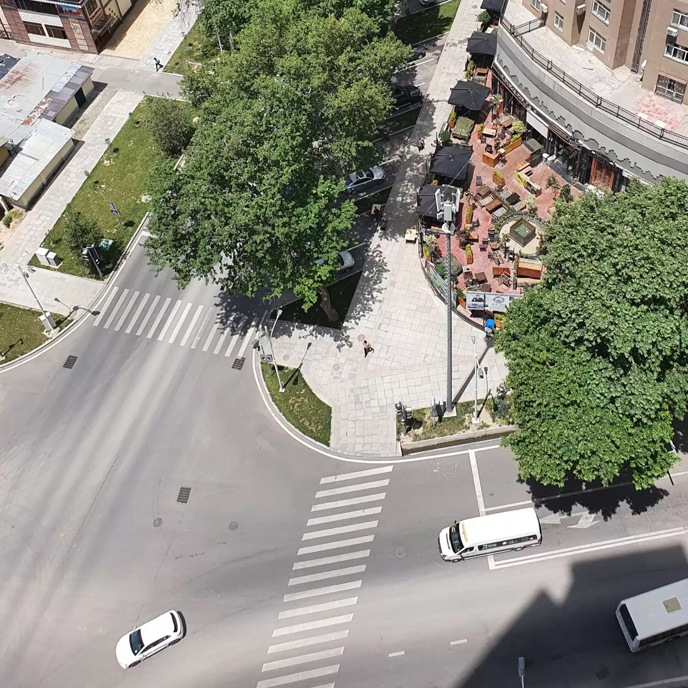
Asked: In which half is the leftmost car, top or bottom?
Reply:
bottom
